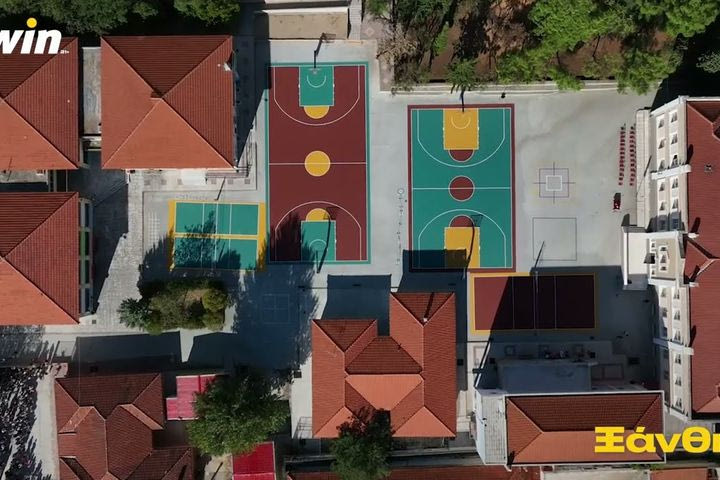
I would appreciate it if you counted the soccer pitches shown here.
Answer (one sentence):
There are no soccer pitches in this view.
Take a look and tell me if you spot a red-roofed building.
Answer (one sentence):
Yes, there's a red-roofed building down there.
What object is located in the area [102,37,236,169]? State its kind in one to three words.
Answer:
building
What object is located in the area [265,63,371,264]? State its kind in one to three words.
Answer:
basketball court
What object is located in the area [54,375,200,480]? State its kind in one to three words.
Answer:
house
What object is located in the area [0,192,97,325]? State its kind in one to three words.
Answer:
building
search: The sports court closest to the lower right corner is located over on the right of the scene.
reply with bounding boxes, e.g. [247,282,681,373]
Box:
[468,273,598,335]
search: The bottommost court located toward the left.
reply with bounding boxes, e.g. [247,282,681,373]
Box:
[169,200,265,272]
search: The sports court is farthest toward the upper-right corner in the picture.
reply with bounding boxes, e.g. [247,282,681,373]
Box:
[533,162,574,204]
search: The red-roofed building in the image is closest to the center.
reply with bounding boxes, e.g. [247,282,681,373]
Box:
[311,292,456,437]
